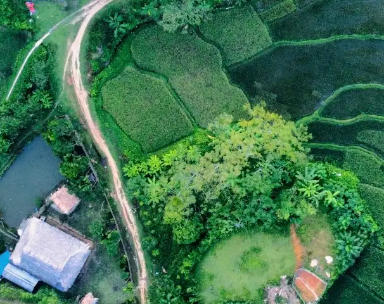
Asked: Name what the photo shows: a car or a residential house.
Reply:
residential house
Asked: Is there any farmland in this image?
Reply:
Yes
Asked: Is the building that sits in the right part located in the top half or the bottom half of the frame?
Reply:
bottom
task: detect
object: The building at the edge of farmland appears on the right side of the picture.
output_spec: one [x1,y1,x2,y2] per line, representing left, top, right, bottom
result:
[295,267,327,304]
